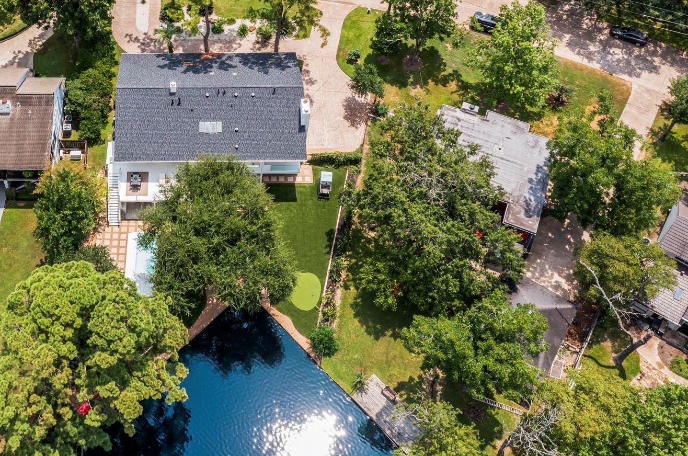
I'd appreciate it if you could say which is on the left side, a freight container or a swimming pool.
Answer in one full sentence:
It is a swimming pool that can be seen on the left side.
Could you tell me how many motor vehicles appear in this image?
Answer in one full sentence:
In total, there are 2 motor vehicles in the scene.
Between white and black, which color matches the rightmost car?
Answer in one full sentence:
The color of the rightmost car is black.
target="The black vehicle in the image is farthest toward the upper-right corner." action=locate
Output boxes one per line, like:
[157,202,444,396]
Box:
[613,26,650,47]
